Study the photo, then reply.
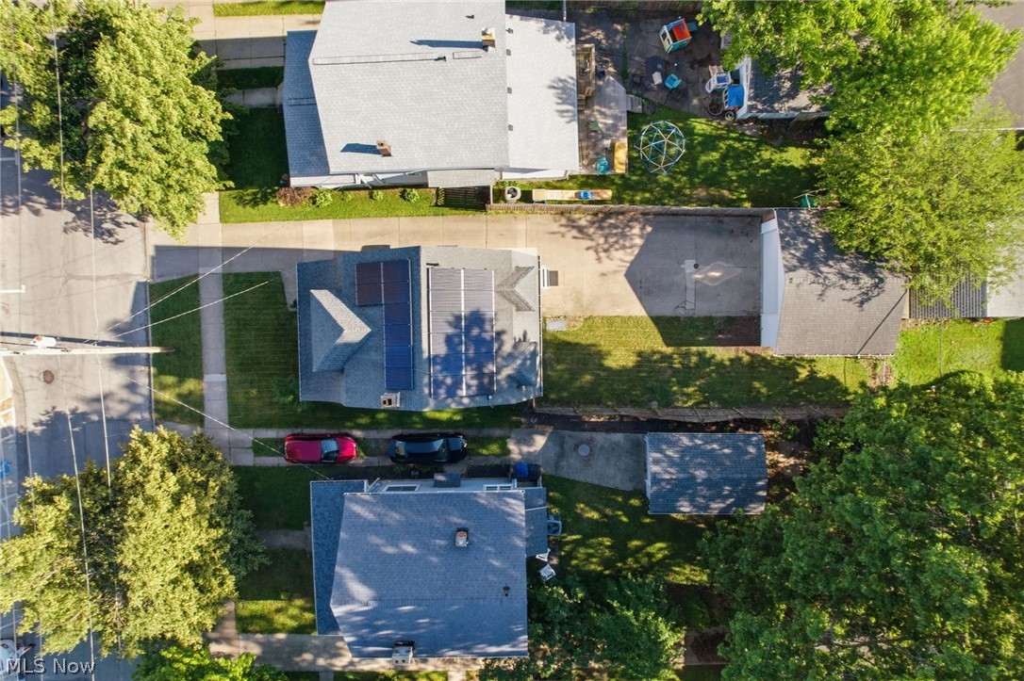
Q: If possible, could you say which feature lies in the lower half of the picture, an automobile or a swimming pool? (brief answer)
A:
automobile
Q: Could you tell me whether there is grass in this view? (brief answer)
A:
Yes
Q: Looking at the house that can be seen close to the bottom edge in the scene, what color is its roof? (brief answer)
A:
blue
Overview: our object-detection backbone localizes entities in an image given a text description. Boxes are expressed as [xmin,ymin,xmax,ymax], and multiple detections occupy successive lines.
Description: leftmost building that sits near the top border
[283,2,577,197]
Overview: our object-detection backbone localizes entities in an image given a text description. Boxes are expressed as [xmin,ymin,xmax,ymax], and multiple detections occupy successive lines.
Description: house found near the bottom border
[311,469,547,665]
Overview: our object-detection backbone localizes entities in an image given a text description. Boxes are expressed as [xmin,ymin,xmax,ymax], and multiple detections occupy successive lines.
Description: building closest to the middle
[295,247,558,410]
